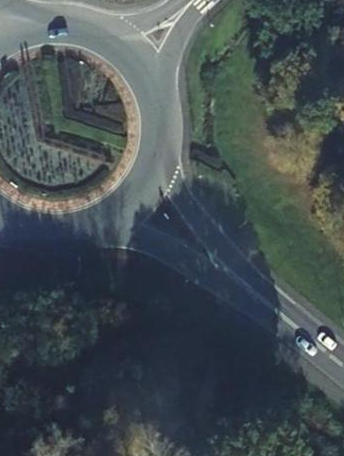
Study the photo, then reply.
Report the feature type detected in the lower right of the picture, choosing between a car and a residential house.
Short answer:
car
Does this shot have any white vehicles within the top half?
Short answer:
No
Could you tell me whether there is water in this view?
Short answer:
No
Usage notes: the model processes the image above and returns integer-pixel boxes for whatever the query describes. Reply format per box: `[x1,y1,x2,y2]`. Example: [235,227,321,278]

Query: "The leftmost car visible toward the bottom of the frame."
[296,336,318,357]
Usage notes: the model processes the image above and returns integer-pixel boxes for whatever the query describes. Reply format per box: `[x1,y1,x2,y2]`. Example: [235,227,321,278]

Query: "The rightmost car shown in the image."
[316,334,337,352]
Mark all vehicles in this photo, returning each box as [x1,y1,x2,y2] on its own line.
[48,26,68,38]
[296,336,318,357]
[316,334,337,352]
